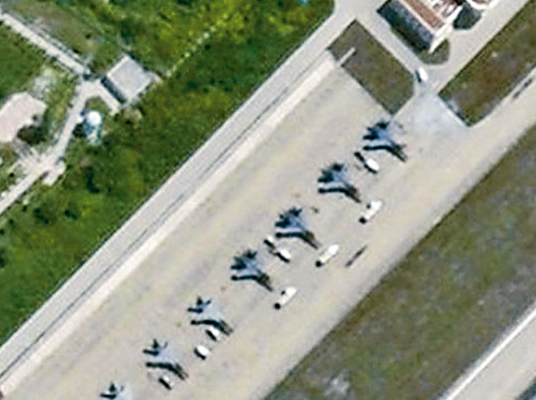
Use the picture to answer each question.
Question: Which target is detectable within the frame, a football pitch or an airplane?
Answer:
airplane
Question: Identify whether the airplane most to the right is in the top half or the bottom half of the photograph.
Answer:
top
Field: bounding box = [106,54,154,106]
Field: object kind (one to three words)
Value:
shed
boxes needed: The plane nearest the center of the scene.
[273,200,320,242]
